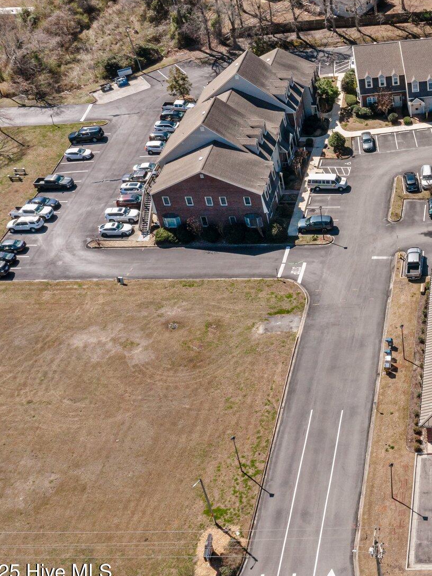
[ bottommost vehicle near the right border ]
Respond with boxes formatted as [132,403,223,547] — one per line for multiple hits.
[404,249,424,280]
